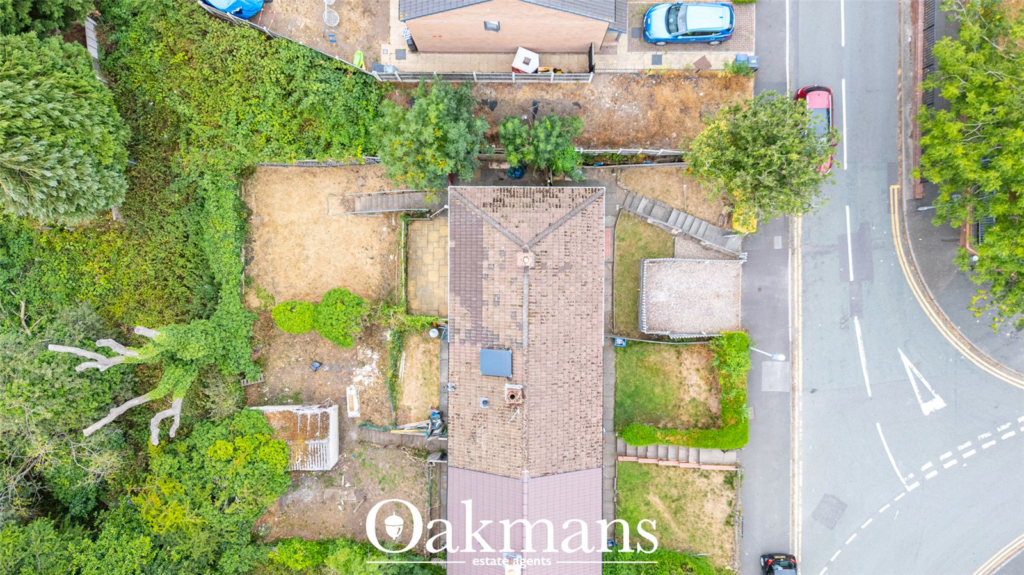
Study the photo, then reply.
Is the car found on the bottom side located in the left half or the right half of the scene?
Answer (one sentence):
The car found on the bottom side is on the right side of the image.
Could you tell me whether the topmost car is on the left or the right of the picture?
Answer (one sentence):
The topmost car is on the right side of the image.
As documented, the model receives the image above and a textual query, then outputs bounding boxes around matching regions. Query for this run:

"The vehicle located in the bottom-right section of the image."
[758,554,798,575]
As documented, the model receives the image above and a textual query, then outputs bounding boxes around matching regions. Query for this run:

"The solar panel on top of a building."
[481,346,513,381]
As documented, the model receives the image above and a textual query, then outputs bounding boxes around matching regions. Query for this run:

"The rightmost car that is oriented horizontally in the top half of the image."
[641,0,735,46]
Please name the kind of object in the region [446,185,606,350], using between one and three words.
house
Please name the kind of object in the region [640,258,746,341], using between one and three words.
building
